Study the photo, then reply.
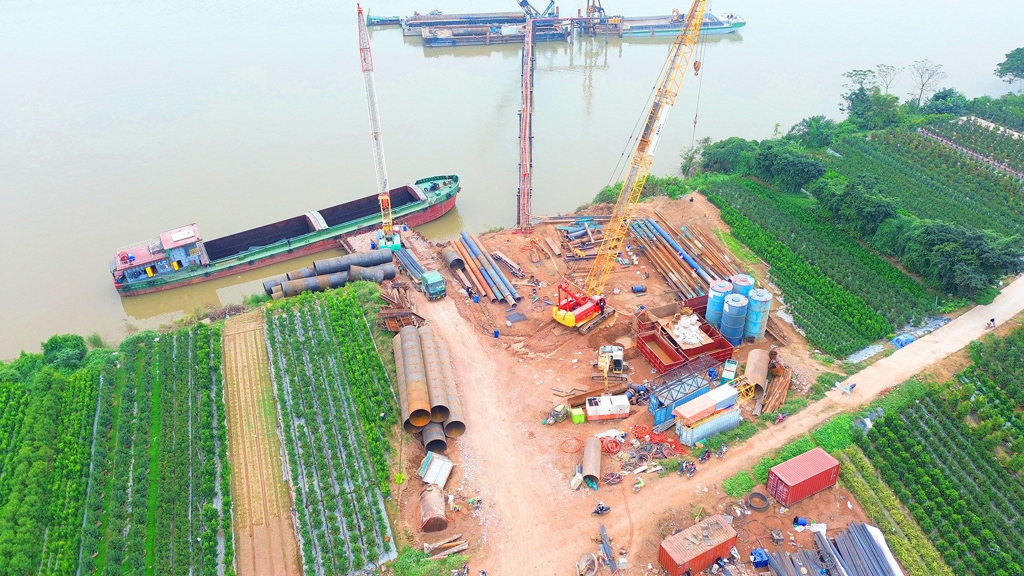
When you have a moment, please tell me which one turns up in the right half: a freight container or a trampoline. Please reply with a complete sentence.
What appears in the right half is a freight container.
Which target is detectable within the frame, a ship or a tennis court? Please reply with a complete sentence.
It is a ship that can be seen here.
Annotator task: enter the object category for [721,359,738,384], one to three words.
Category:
building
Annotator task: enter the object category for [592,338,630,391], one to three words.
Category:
work vehicle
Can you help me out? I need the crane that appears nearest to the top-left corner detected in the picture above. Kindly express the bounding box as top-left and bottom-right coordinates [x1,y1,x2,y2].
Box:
[358,5,405,251]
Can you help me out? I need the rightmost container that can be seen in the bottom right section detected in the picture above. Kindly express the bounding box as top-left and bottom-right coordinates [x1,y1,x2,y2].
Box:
[767,446,842,507]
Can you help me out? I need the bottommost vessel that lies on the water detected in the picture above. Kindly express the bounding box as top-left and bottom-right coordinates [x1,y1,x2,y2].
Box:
[112,172,461,292]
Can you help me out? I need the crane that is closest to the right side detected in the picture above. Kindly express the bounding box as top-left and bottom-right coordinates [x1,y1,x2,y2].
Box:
[548,0,711,337]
